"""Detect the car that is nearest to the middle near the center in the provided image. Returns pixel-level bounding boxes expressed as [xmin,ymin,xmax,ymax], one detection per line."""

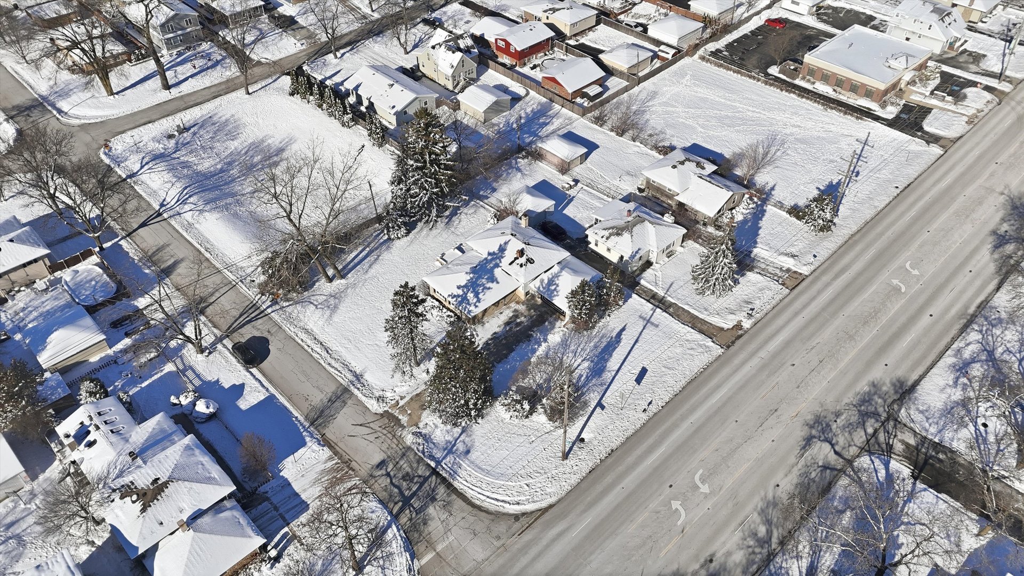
[538,219,568,243]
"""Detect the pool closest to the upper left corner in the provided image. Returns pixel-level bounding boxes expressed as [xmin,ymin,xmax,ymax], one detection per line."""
[56,266,122,309]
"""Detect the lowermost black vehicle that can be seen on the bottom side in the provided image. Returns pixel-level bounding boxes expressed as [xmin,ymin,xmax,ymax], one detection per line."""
[230,342,260,369]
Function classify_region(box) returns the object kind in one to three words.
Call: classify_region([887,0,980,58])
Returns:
house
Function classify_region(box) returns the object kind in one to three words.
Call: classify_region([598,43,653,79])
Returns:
building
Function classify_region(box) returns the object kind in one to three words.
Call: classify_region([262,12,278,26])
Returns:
car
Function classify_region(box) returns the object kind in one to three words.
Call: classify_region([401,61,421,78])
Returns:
car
